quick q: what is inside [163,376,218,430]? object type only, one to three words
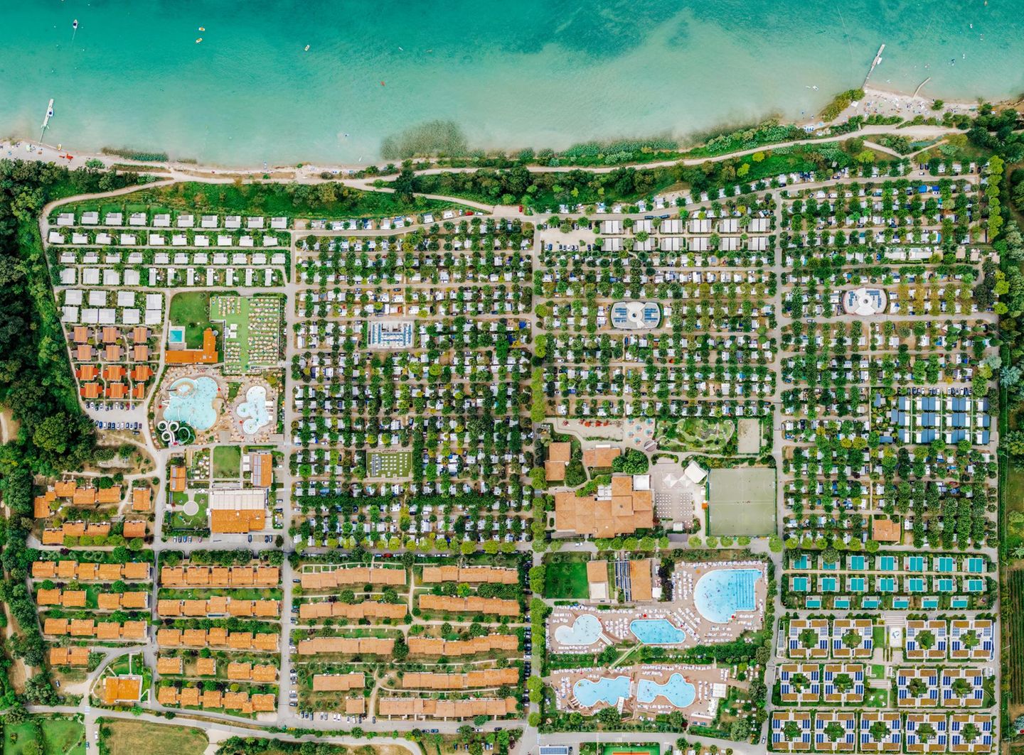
swimming pool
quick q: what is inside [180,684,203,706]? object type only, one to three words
house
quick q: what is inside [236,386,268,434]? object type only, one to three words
swimming pool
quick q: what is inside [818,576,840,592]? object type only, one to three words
building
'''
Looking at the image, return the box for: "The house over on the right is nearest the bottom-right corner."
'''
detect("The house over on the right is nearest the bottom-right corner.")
[948,712,992,753]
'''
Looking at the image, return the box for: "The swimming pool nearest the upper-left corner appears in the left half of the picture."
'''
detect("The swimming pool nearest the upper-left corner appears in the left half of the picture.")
[169,330,182,342]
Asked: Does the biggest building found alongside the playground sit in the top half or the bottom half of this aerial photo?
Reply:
bottom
